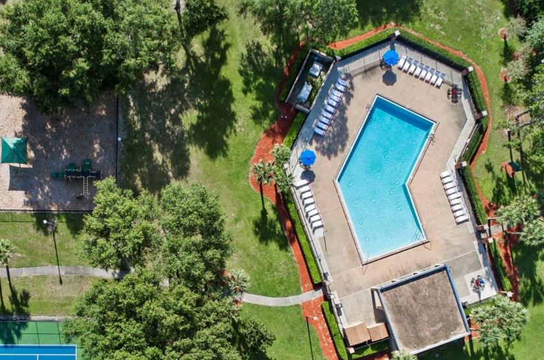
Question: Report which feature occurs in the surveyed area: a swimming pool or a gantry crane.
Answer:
swimming pool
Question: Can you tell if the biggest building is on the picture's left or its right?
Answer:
right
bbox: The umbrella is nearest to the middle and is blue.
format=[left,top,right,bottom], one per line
[300,149,316,166]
